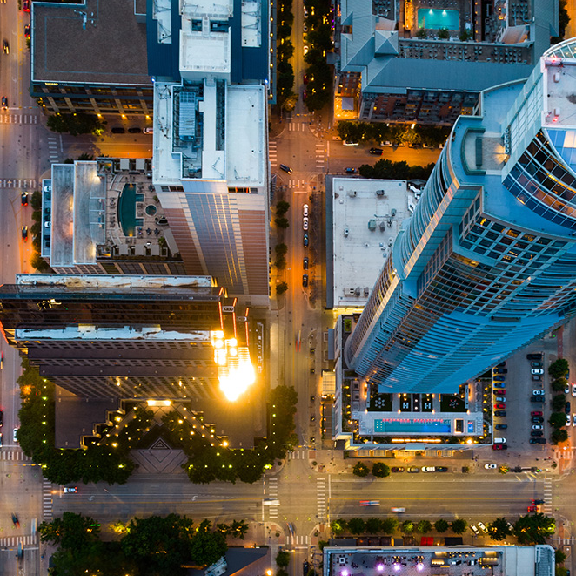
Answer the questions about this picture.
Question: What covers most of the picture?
buildings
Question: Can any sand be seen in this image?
No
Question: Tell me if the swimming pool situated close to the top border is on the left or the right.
right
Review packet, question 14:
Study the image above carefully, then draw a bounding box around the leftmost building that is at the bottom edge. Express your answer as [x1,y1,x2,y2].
[189,548,269,576]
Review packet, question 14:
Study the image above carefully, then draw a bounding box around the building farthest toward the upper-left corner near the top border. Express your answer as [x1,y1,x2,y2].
[30,0,152,119]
